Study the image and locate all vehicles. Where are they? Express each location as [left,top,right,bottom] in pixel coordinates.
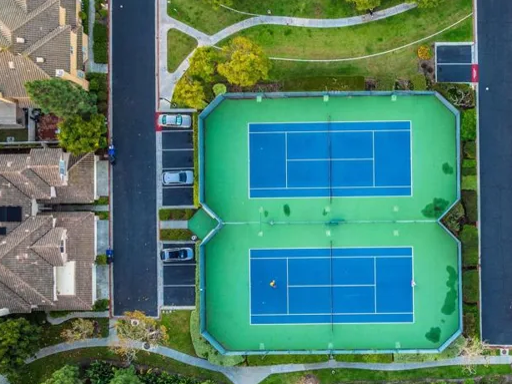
[163,246,195,261]
[159,114,193,129]
[163,170,193,184]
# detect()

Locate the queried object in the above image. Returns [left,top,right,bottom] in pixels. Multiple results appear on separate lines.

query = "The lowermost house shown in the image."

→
[0,149,98,316]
